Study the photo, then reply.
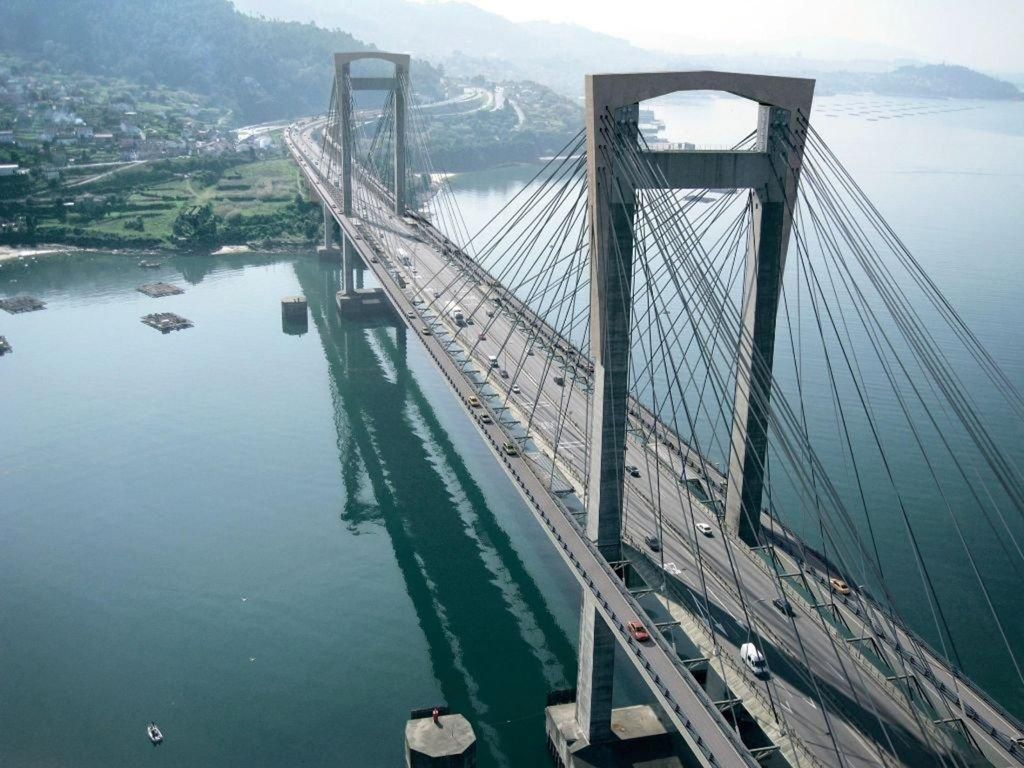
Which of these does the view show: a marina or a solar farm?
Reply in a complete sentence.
This image shows a marina.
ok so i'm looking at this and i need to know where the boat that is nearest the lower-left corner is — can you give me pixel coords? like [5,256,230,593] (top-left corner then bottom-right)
[146,720,161,741]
